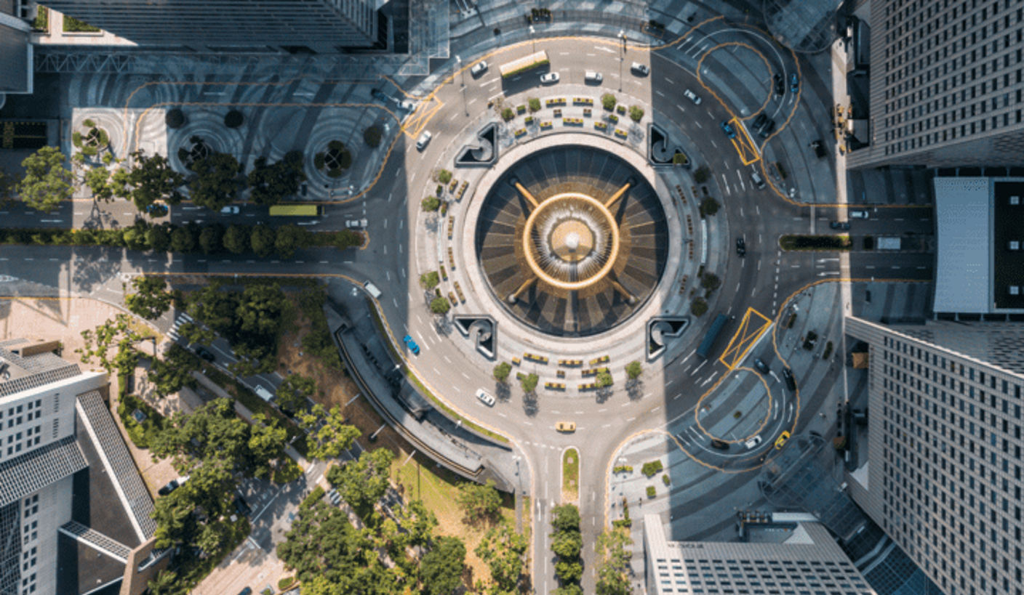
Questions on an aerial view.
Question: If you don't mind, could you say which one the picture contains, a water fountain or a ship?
water fountain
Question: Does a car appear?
Yes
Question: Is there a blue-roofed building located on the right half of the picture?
Yes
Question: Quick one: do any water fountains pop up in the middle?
Yes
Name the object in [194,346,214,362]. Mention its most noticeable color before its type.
black car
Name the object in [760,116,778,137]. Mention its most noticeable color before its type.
black vehicle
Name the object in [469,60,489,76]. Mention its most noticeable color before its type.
white car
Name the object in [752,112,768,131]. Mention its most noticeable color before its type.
black car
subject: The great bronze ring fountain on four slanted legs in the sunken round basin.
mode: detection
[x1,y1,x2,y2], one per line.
[462,131,682,351]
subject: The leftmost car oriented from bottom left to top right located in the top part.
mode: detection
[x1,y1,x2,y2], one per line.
[415,130,431,149]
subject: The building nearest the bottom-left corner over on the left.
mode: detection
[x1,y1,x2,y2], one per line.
[0,335,179,595]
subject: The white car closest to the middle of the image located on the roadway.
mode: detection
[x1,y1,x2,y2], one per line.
[475,390,494,406]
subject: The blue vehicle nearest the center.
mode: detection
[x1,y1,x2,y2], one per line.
[403,335,419,354]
